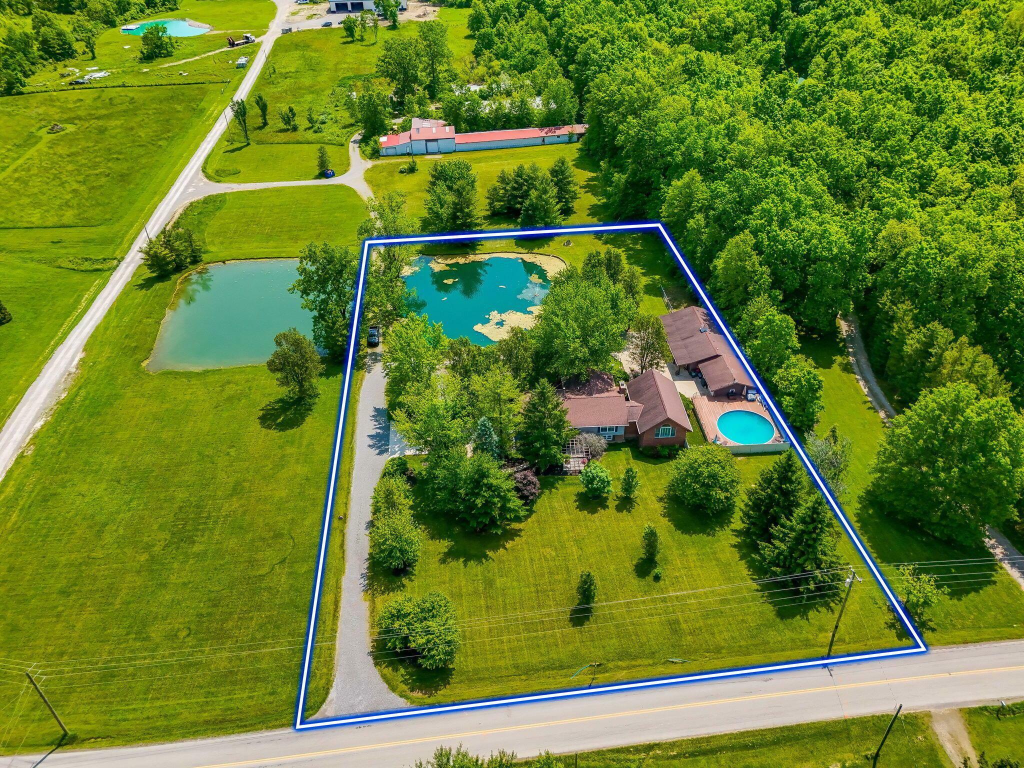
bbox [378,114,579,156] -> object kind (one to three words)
barn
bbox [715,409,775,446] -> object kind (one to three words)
swimming pool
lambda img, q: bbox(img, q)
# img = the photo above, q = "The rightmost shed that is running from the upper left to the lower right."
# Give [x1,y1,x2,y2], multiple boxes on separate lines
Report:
[657,304,759,401]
